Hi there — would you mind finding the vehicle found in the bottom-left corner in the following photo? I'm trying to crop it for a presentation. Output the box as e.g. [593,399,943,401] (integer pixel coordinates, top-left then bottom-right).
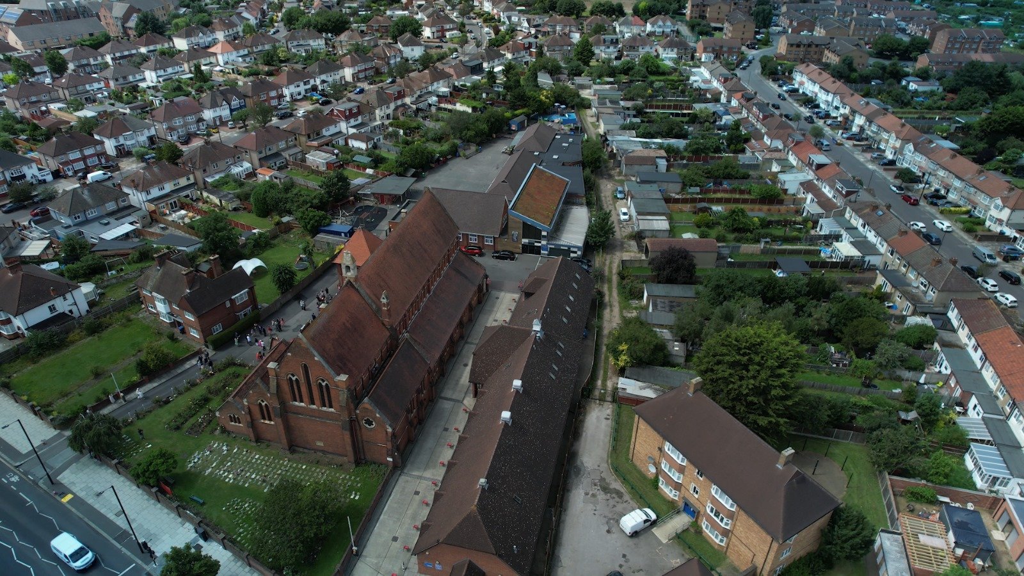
[44,527,96,570]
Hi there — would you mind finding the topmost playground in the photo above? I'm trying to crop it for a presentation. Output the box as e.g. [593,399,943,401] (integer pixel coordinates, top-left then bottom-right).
[403,121,538,193]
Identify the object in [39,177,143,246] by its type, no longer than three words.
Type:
house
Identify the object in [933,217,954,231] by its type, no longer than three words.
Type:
car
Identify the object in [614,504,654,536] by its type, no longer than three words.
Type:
van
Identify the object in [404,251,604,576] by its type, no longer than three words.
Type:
building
